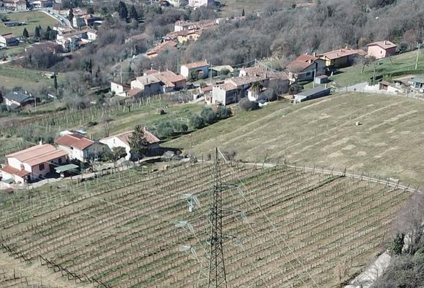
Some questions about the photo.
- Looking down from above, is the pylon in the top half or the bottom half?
bottom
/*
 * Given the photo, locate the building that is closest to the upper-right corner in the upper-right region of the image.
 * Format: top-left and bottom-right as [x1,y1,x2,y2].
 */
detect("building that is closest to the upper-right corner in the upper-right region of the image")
[367,28,399,60]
